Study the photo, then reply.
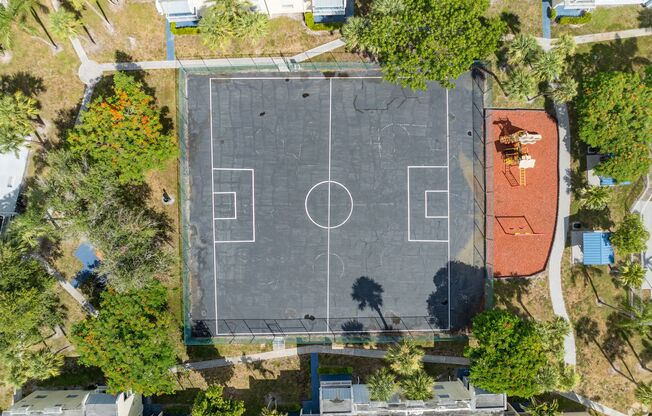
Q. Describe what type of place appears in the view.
sports ground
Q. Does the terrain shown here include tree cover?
Yes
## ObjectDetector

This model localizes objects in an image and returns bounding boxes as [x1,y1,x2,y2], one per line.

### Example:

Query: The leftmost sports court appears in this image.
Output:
[187,71,487,338]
